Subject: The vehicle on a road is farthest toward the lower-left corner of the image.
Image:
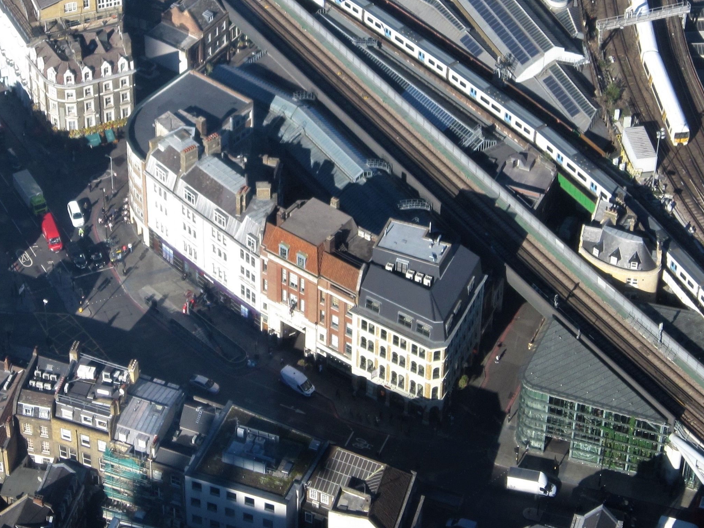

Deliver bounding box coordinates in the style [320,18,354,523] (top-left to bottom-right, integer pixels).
[186,374,219,396]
